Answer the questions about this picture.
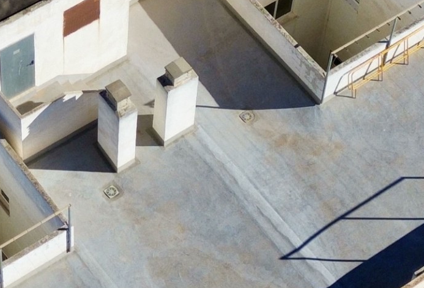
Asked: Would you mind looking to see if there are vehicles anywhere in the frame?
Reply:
No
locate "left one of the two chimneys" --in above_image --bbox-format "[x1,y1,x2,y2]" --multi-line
[91,78,142,178]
